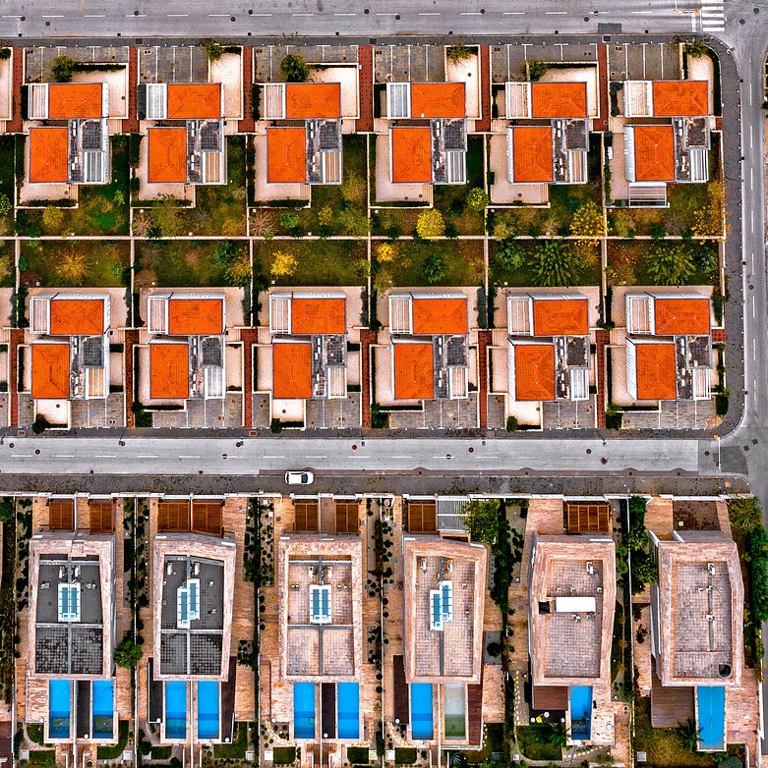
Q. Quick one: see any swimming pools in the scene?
Yes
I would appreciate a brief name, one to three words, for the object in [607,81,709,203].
house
